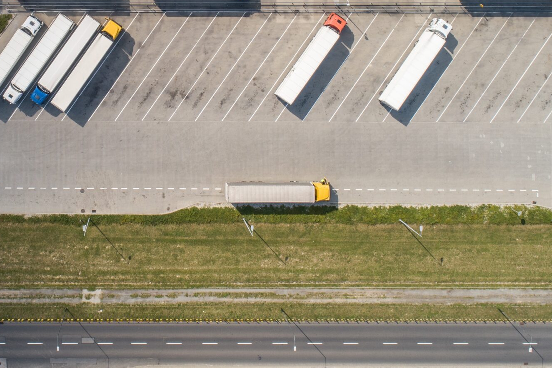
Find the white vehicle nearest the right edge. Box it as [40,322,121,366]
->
[379,17,453,111]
